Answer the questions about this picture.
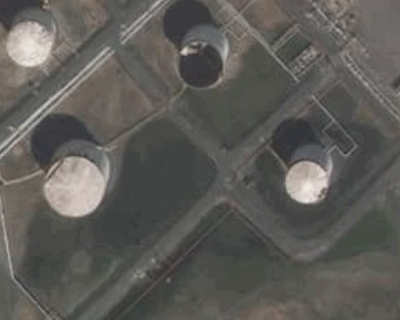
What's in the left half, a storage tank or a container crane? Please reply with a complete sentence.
It is a storage tank that can be seen in the left half.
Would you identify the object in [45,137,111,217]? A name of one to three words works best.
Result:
storage tank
